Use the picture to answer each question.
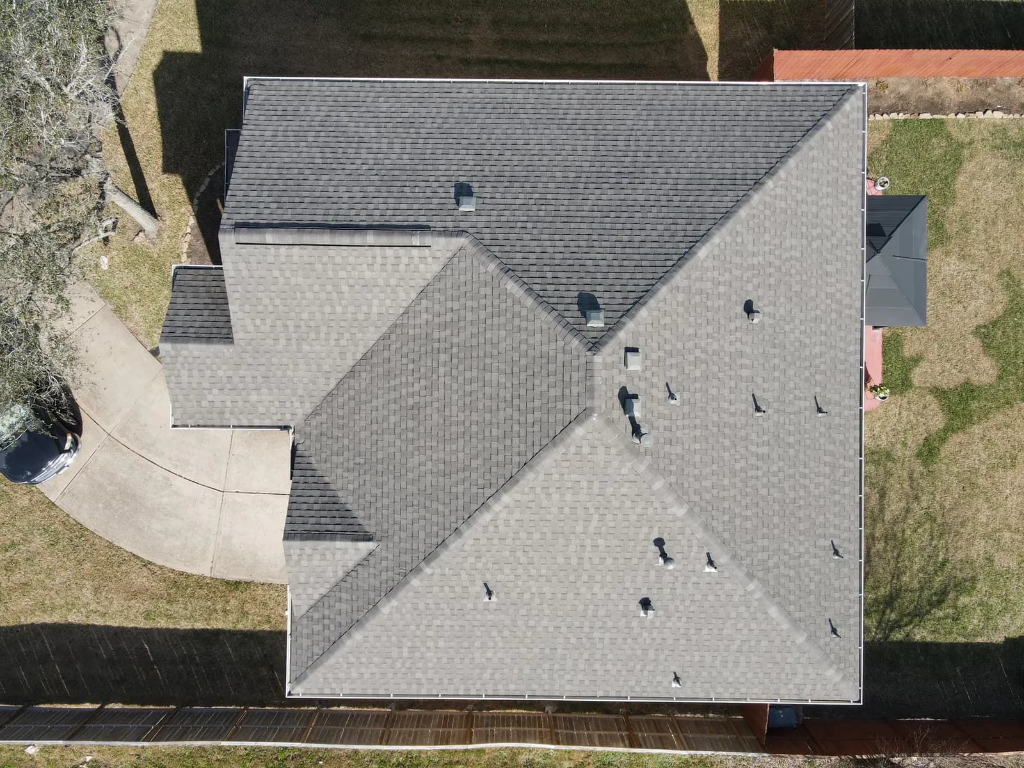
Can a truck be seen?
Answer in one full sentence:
No, there is no truck in the image.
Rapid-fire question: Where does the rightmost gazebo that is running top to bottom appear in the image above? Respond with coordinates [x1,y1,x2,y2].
[865,194,929,328]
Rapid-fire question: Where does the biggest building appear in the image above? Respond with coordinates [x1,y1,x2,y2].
[157,77,867,703]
